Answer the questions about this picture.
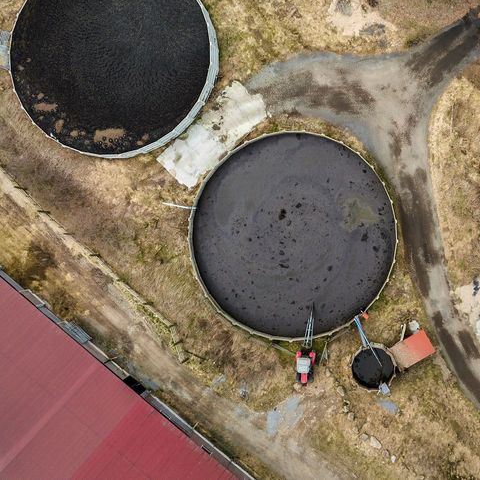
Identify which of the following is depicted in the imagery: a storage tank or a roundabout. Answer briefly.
storage tank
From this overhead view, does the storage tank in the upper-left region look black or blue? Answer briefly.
black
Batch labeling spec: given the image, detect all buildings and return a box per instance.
[0,260,264,480]
[390,328,436,369]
